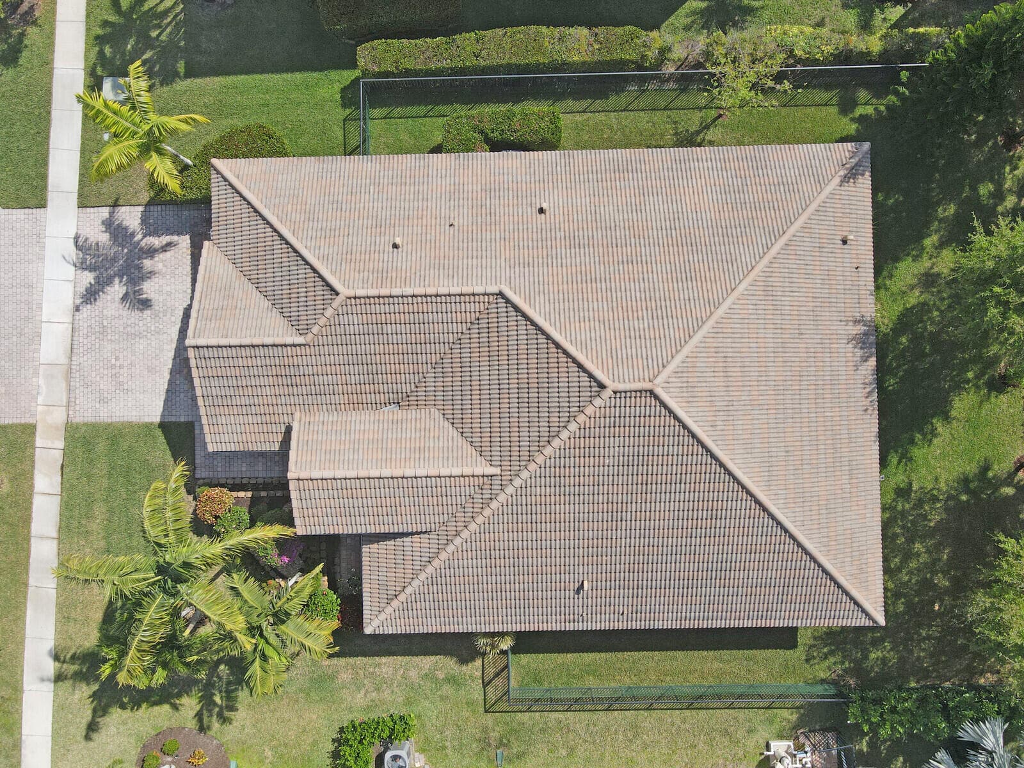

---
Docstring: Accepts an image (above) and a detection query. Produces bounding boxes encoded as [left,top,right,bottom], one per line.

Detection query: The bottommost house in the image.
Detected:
[180,138,889,639]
